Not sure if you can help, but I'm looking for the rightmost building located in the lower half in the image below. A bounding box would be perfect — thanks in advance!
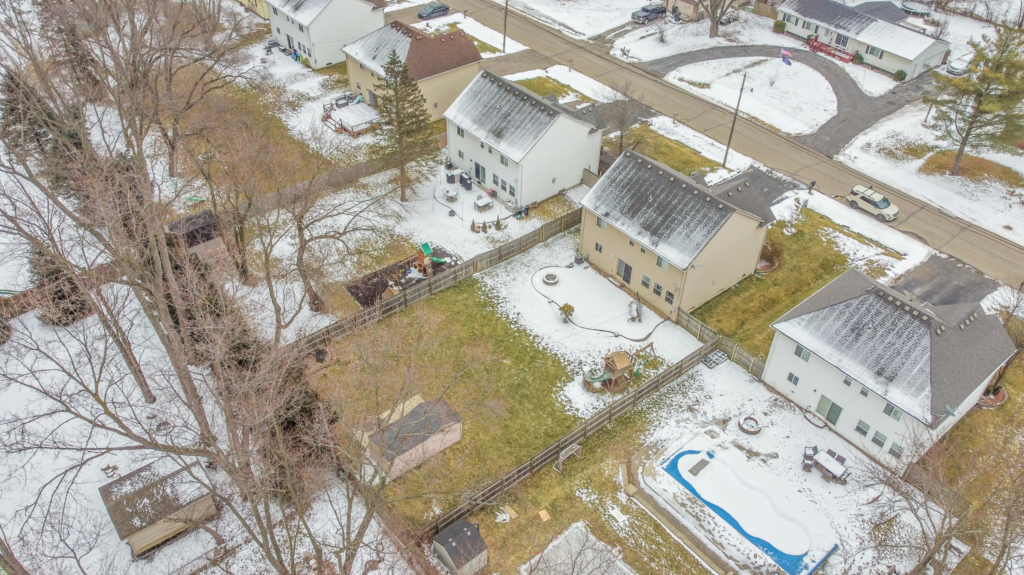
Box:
[755,269,1018,479]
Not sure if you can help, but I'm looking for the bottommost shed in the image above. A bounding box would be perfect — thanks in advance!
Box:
[433,519,487,575]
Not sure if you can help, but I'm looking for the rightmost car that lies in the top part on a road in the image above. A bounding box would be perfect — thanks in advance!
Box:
[847,186,902,222]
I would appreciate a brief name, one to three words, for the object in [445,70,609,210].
house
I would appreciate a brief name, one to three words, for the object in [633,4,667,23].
vehicle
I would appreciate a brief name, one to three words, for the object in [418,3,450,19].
car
